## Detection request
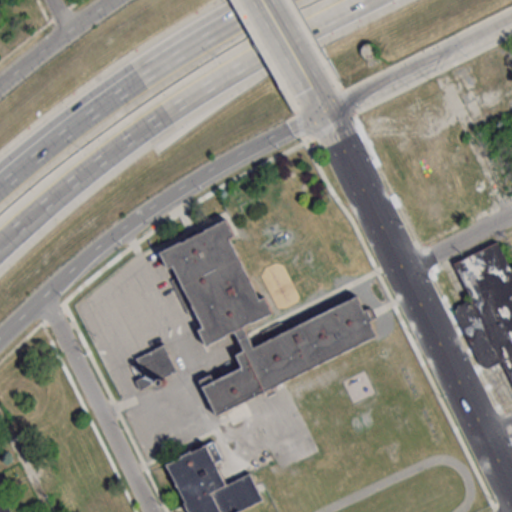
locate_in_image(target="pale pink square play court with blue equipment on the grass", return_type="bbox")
[344,371,376,404]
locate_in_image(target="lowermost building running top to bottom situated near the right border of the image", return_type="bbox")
[452,244,512,373]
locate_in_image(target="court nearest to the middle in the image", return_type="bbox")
[262,263,298,308]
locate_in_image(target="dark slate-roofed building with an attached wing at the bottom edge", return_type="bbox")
[167,434,262,512]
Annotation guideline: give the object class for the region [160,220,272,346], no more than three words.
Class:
building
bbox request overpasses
[232,0,344,114]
